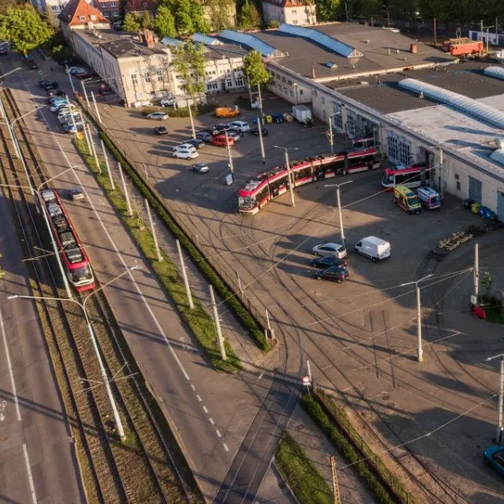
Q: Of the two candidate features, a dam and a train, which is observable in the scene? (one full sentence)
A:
Looking from above, you can make out a train.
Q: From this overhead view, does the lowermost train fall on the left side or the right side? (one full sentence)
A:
The lowermost train sits on the left side.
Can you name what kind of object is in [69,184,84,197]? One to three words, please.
vehicle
